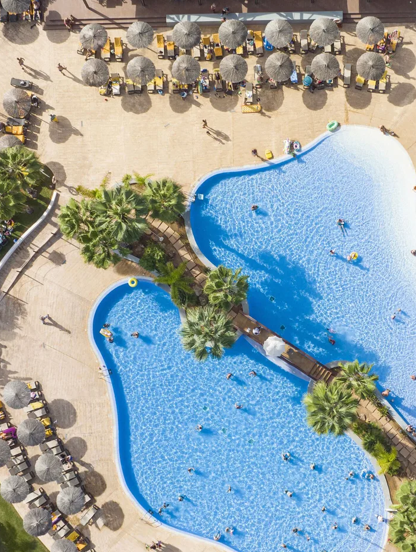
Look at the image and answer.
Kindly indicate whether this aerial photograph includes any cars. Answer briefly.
No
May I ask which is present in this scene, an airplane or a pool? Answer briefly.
pool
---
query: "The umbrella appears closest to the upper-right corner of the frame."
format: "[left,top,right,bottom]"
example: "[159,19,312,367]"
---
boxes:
[355,18,384,48]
